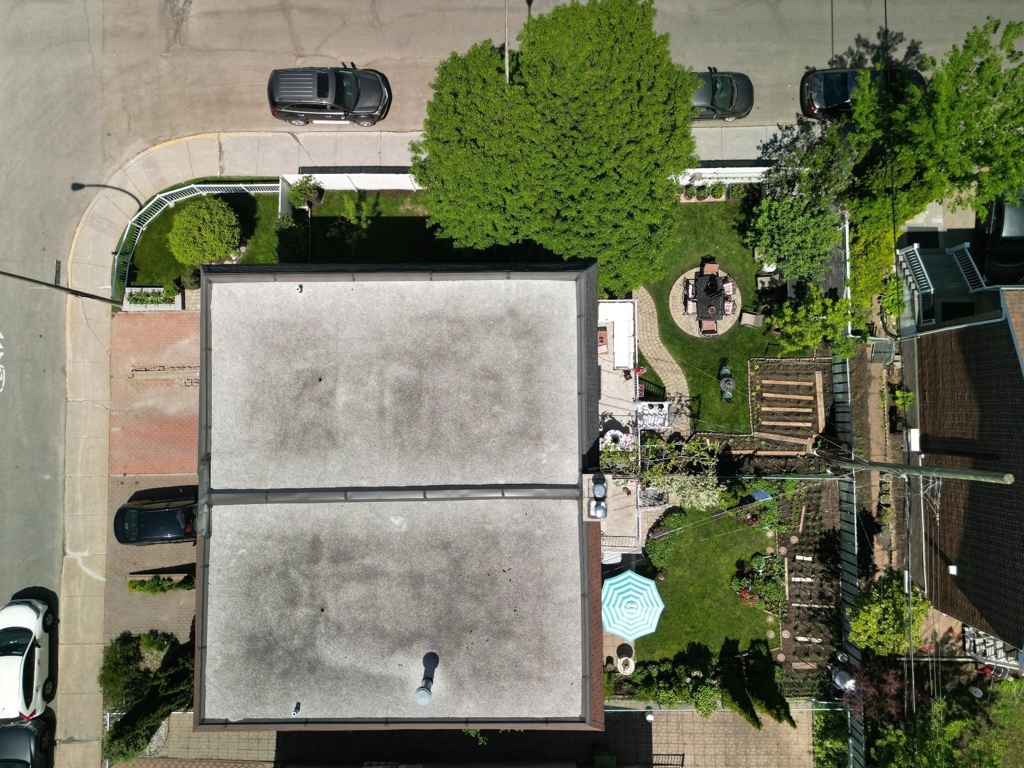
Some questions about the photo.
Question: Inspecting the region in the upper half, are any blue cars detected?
No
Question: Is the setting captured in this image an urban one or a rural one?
urban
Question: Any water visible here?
No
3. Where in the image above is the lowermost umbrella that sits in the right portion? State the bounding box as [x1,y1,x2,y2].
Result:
[603,567,665,639]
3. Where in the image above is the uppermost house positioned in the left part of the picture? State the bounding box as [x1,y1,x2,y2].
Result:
[197,261,600,534]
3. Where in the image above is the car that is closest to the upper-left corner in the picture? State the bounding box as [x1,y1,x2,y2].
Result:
[263,59,390,125]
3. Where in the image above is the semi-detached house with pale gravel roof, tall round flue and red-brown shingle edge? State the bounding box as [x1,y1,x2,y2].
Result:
[193,441,607,731]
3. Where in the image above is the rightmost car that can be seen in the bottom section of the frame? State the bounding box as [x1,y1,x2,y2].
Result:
[113,488,197,548]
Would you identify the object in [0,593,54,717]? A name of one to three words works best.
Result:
car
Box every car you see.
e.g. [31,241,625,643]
[113,488,197,548]
[0,715,54,768]
[668,61,756,121]
[0,593,54,717]
[263,59,390,125]
[796,56,925,119]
